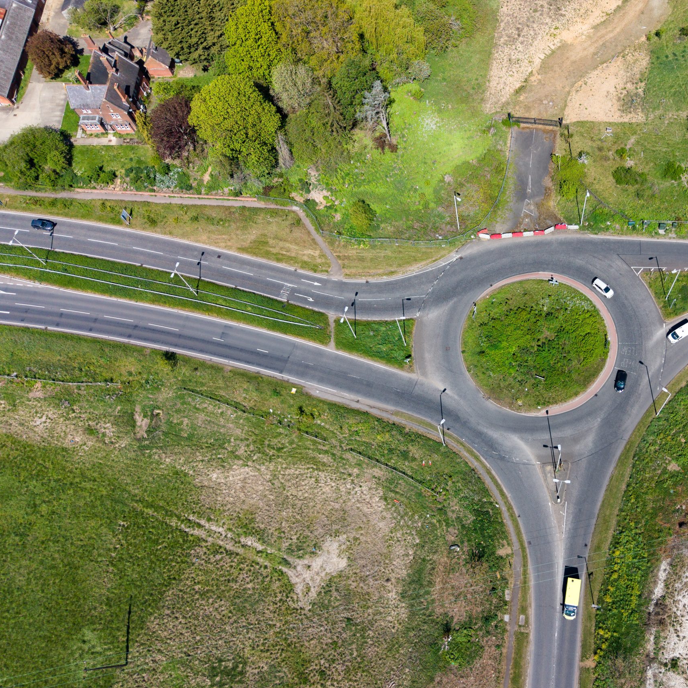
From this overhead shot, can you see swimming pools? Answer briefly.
No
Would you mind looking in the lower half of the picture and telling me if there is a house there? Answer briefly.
No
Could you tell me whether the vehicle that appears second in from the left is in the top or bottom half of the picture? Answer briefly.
bottom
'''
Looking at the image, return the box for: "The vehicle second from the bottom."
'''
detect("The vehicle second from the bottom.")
[614,369,627,394]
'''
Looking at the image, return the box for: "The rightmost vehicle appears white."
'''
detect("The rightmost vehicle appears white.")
[667,323,688,344]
